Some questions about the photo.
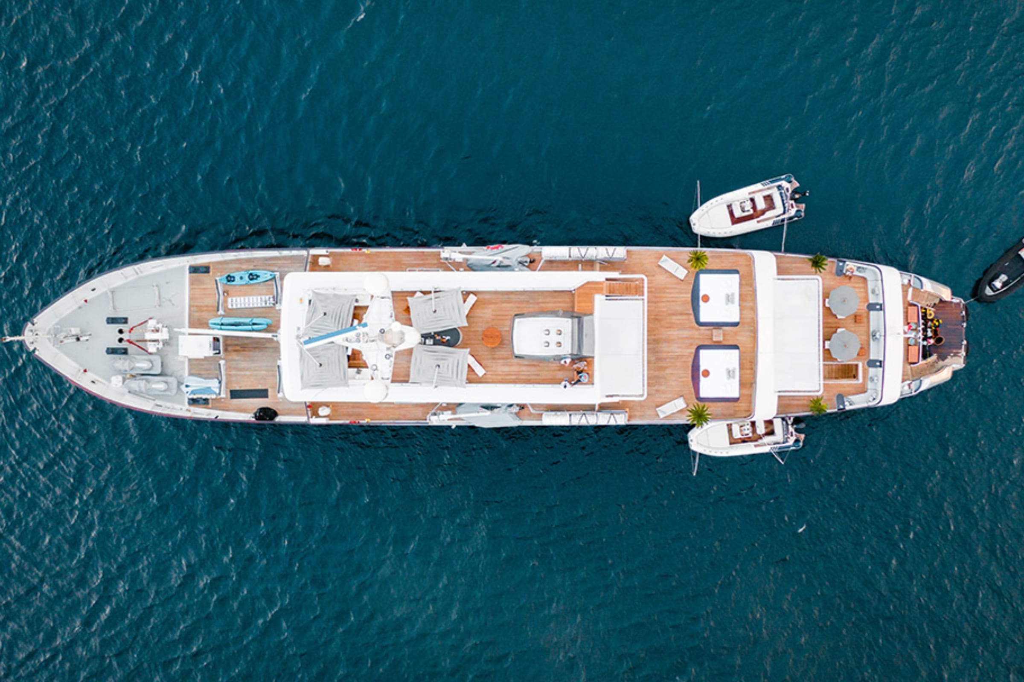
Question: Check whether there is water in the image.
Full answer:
Yes, there's water in this view.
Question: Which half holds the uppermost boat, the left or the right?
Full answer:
It is on the right.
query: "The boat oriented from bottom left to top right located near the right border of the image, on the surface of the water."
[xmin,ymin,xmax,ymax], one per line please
[969,236,1024,305]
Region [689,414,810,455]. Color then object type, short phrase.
white boat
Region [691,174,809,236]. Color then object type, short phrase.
white boat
